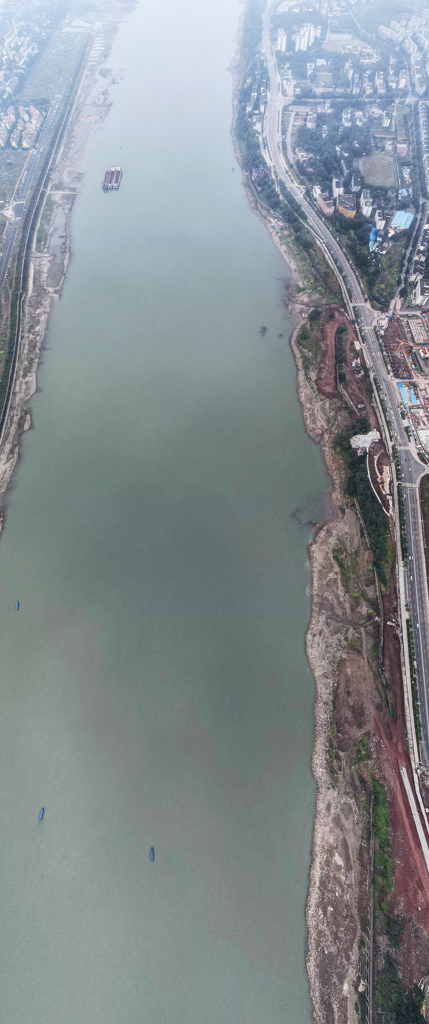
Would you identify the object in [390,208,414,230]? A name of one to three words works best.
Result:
building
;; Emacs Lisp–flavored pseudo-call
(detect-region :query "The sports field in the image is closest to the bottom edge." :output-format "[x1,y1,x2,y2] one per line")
[360,155,397,185]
